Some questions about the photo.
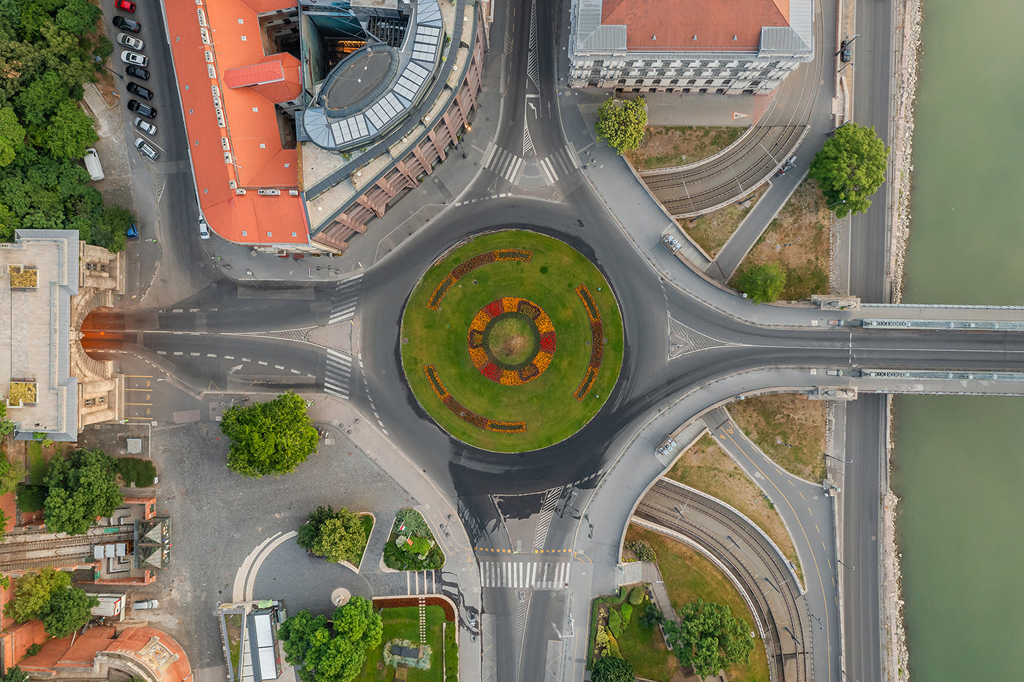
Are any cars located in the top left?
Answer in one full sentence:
Yes, there is a car in the top left.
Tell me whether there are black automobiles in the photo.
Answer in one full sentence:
Yes, the image includes a black automobile.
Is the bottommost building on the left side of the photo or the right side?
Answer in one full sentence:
The bottommost building is on the left side of the image.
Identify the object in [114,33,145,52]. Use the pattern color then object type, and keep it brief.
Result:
gray car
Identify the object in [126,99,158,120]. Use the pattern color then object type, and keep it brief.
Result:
black car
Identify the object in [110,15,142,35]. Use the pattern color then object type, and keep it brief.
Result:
black car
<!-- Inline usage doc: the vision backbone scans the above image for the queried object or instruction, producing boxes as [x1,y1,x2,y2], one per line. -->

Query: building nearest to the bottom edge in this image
[244,607,285,682]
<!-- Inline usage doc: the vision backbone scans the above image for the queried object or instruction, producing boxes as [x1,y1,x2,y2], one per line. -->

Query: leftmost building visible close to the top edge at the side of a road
[160,0,328,257]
